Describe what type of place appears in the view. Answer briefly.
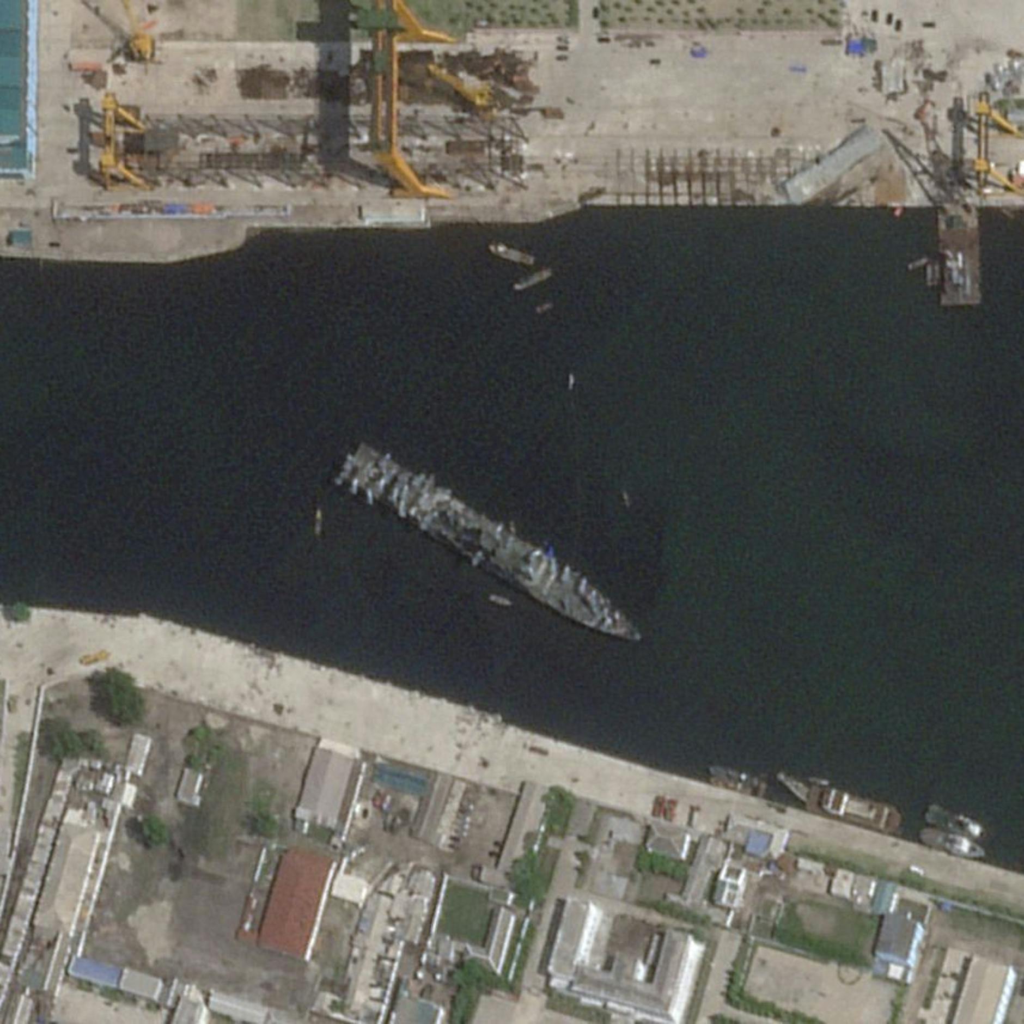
port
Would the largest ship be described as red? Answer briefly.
No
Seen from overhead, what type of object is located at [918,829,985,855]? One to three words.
boat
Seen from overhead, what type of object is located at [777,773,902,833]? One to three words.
ship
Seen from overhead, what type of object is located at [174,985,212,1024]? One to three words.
house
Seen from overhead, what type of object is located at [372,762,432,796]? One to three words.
shed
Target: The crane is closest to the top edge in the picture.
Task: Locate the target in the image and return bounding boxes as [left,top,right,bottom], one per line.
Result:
[126,0,165,65]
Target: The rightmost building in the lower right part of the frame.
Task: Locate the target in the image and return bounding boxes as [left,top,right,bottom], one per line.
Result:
[950,954,1013,1024]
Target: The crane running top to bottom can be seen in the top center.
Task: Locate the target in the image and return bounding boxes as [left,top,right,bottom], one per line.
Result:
[359,0,456,201]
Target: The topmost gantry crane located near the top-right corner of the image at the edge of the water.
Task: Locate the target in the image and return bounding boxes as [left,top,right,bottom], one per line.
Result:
[971,90,1024,194]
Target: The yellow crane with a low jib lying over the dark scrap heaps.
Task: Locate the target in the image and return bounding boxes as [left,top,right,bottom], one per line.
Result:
[427,64,505,116]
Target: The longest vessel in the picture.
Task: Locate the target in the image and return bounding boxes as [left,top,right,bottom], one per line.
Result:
[335,443,641,641]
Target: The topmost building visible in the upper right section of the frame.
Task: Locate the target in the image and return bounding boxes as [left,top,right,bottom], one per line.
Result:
[882,60,905,93]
